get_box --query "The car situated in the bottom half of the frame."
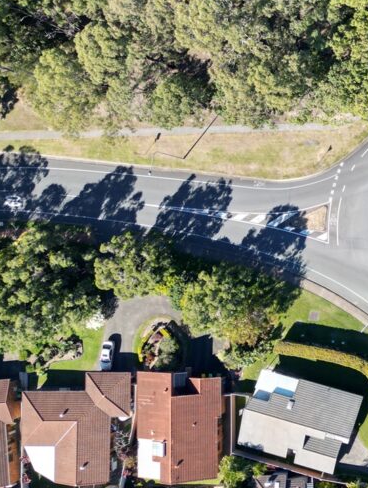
[99,340,117,370]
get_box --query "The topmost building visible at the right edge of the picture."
[238,370,362,474]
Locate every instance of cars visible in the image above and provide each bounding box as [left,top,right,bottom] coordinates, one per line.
[0,195,29,209]
[99,340,117,370]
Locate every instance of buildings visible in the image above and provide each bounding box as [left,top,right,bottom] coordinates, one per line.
[253,472,313,488]
[0,379,21,486]
[22,371,136,485]
[238,370,362,474]
[137,372,224,485]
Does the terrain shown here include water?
No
